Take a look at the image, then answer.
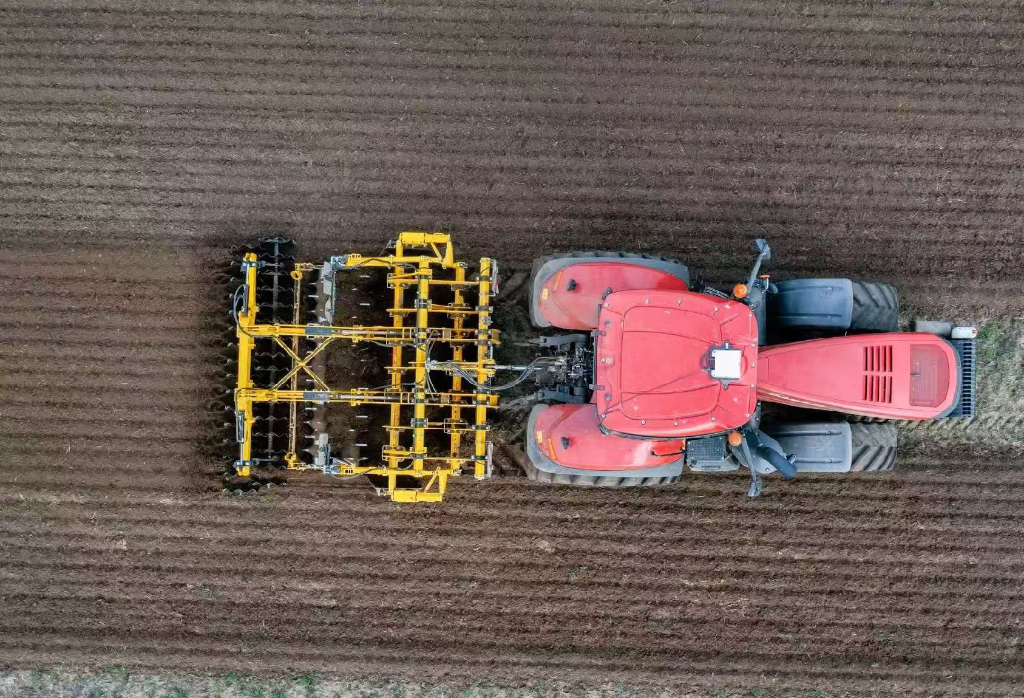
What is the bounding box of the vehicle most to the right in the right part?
[496,239,976,496]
